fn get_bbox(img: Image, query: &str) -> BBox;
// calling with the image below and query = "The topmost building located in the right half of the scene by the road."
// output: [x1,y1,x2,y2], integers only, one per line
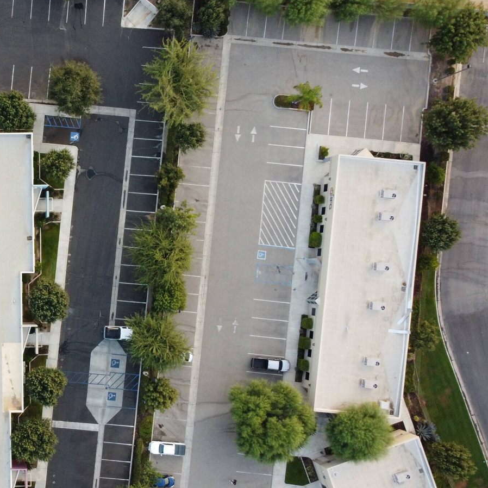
[302,149,425,418]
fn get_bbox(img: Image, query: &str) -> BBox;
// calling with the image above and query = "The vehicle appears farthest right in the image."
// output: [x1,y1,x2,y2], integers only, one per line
[248,356,290,373]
